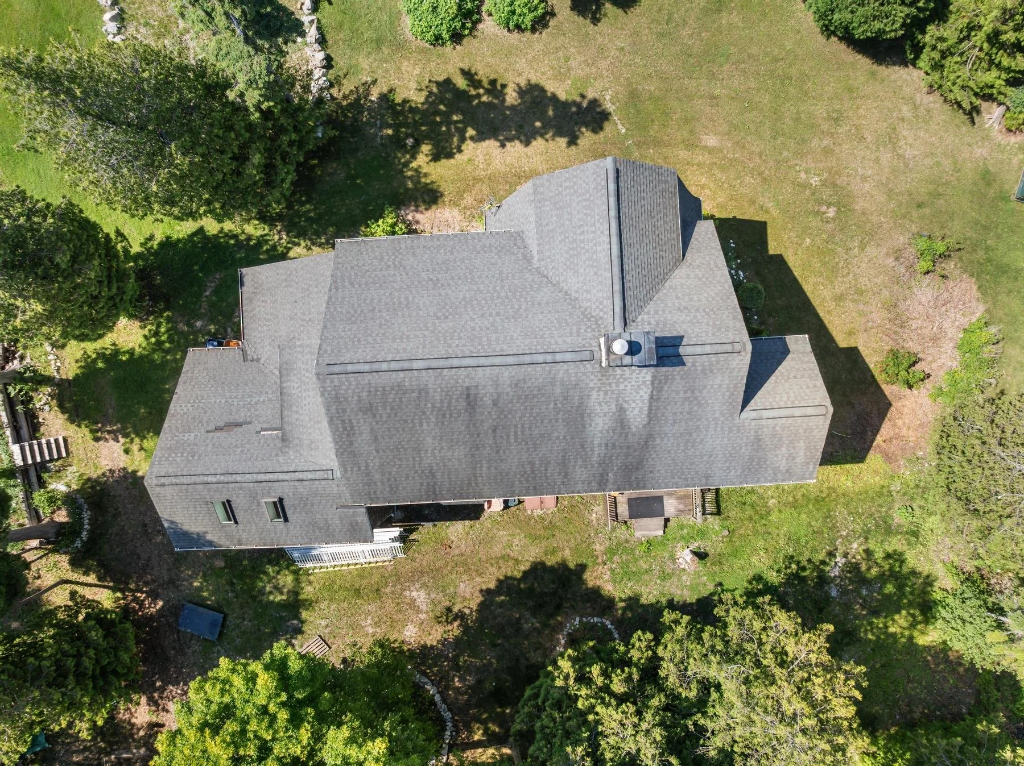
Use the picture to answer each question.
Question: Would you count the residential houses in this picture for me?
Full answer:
Just 1 residential house appears in this view.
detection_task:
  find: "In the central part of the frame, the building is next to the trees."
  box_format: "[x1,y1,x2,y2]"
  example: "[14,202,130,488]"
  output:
[145,155,833,551]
